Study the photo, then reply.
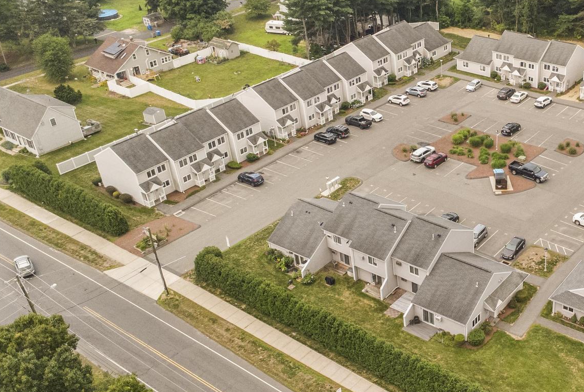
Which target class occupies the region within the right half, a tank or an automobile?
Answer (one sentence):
You can see an automobile within the right half.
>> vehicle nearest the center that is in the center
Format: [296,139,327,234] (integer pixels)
[235,169,264,186]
